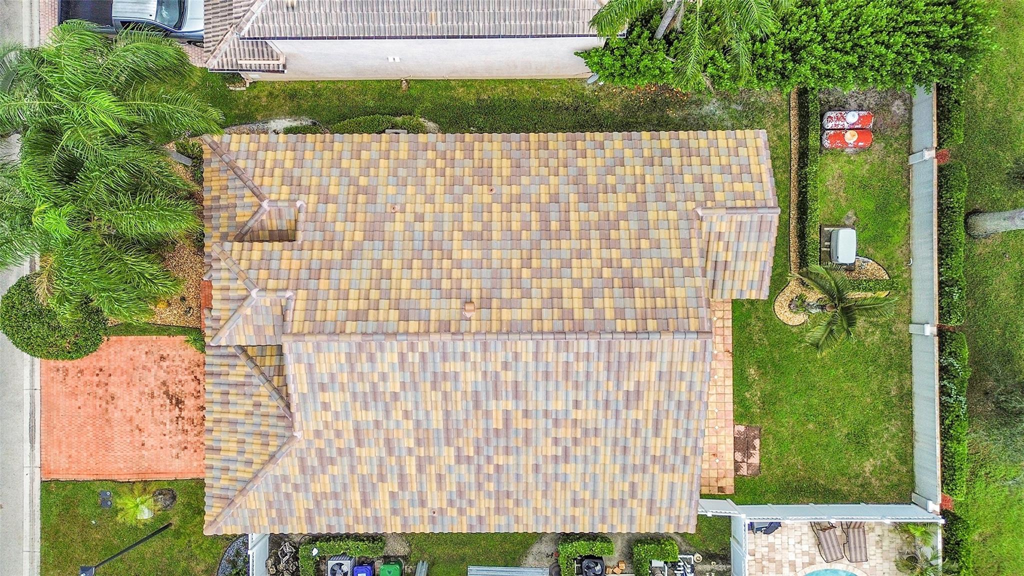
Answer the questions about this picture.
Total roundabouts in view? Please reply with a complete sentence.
The count of roundabouts is 0.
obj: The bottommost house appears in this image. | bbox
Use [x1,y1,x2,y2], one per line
[199,129,782,537]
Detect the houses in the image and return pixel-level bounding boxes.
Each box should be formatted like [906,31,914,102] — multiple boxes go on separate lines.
[198,0,626,94]
[199,129,782,537]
